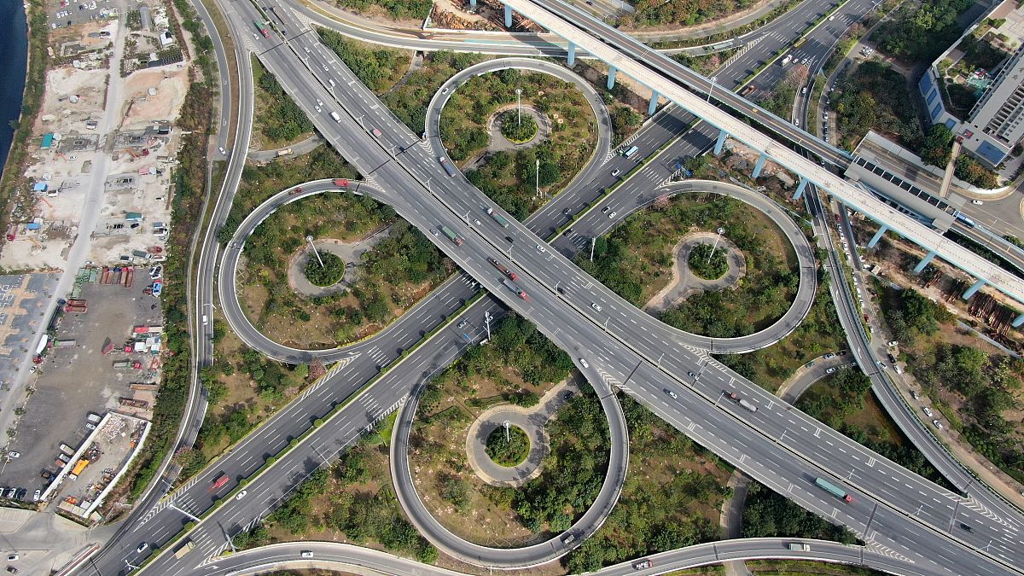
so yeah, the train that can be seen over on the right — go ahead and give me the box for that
[952,211,973,233]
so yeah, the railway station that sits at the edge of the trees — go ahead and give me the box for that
[834,149,967,253]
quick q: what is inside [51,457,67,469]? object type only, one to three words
vehicle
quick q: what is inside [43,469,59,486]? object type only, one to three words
vehicle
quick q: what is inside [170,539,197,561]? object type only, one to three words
truck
